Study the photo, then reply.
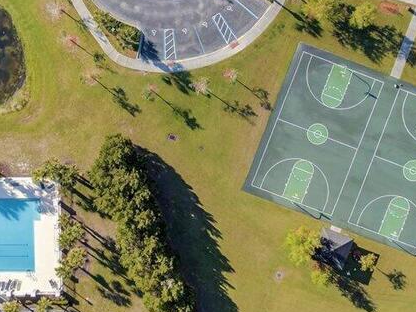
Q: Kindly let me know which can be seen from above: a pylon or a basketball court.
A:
basketball court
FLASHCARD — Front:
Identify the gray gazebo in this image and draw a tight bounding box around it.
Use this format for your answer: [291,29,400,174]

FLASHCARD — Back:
[313,225,353,267]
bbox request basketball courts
[244,43,393,225]
[338,79,416,255]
